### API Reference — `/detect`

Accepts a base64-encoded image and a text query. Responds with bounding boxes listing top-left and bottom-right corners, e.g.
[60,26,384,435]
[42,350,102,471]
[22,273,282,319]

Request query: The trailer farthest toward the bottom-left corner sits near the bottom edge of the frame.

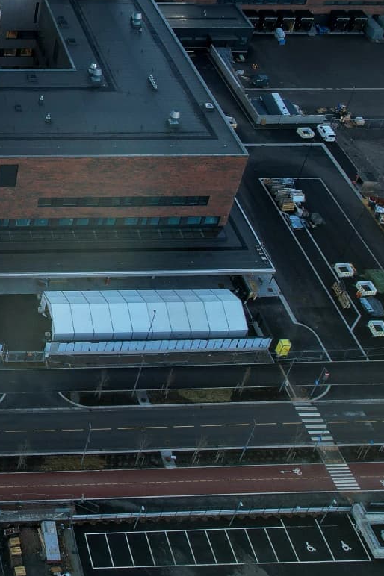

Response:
[44,519,65,564]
